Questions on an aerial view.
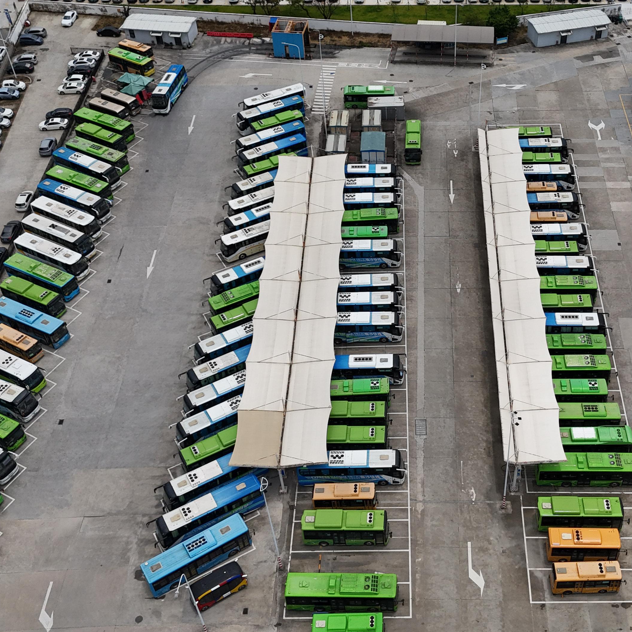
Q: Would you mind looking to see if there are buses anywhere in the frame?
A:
Yes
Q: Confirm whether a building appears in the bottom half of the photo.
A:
No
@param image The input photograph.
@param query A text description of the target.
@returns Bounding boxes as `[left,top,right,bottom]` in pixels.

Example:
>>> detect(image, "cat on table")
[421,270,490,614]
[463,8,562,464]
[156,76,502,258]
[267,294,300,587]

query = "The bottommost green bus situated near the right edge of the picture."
[537,497,627,531]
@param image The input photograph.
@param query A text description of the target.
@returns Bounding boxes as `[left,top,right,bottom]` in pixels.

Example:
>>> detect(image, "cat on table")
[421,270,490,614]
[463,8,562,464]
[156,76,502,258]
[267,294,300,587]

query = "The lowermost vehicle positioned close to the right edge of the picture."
[551,560,627,597]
